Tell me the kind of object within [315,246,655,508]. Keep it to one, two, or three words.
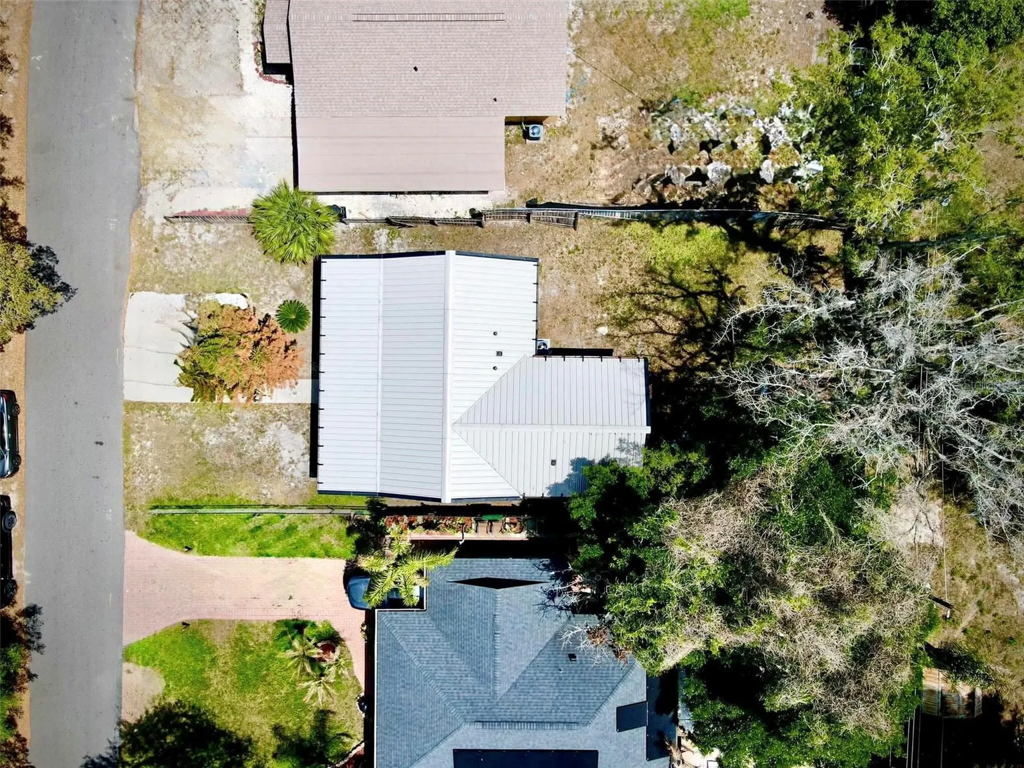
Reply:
house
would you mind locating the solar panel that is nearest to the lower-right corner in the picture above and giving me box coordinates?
[617,702,647,733]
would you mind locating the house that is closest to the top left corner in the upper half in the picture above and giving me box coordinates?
[259,0,569,194]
